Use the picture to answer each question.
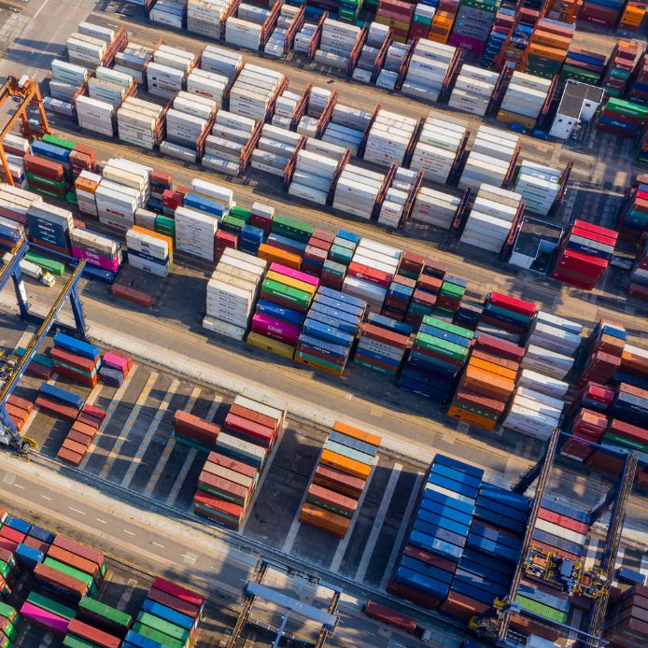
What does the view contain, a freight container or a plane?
freight container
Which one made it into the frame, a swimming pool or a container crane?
container crane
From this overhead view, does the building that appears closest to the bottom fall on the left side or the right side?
right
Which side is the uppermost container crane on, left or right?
right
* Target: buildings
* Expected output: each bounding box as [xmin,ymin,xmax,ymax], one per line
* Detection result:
[549,79,605,141]
[509,217,563,269]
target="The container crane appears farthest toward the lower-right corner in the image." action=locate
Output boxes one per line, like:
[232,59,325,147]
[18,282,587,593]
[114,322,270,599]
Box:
[466,425,638,648]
